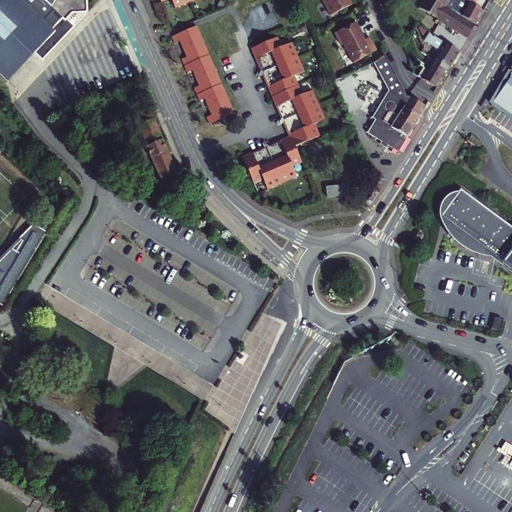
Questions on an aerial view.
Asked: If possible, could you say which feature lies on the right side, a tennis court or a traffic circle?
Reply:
traffic circle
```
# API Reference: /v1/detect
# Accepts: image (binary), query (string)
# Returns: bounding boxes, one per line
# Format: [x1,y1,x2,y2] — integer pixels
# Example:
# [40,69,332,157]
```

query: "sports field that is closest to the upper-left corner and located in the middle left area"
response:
[0,152,42,251]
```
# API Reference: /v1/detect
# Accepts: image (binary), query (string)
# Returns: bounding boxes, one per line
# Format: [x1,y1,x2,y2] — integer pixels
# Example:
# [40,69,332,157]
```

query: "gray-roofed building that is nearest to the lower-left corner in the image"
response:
[0,226,46,306]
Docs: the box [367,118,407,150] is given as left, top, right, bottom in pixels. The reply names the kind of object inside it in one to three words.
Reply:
building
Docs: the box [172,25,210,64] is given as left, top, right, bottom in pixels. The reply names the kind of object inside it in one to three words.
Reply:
house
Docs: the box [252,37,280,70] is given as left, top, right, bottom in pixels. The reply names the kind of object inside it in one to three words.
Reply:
house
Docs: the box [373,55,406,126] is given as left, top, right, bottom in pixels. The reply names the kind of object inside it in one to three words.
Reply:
building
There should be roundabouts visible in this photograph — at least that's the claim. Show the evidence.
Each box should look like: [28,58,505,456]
[292,232,395,334]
